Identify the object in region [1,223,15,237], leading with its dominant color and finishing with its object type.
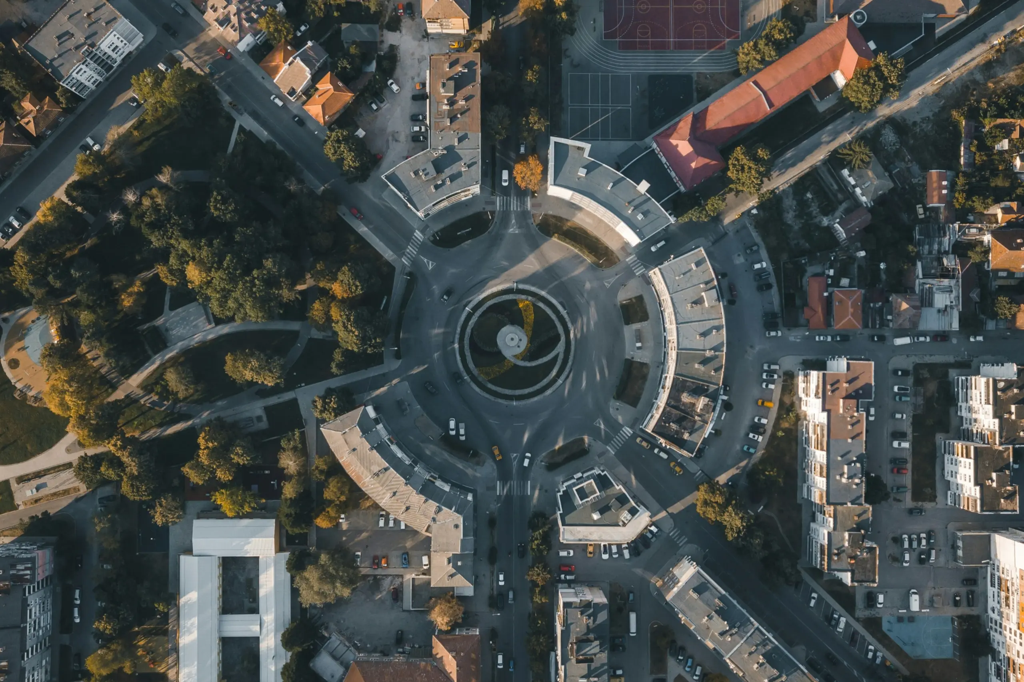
black car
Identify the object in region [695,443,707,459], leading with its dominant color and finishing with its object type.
black vehicle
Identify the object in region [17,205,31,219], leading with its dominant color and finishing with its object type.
black car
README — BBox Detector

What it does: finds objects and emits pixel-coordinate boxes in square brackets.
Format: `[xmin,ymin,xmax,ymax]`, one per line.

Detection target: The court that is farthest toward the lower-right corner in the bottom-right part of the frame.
[882,618,953,659]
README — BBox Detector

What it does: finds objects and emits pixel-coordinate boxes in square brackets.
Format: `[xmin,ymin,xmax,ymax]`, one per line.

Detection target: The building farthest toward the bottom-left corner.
[0,542,63,682]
